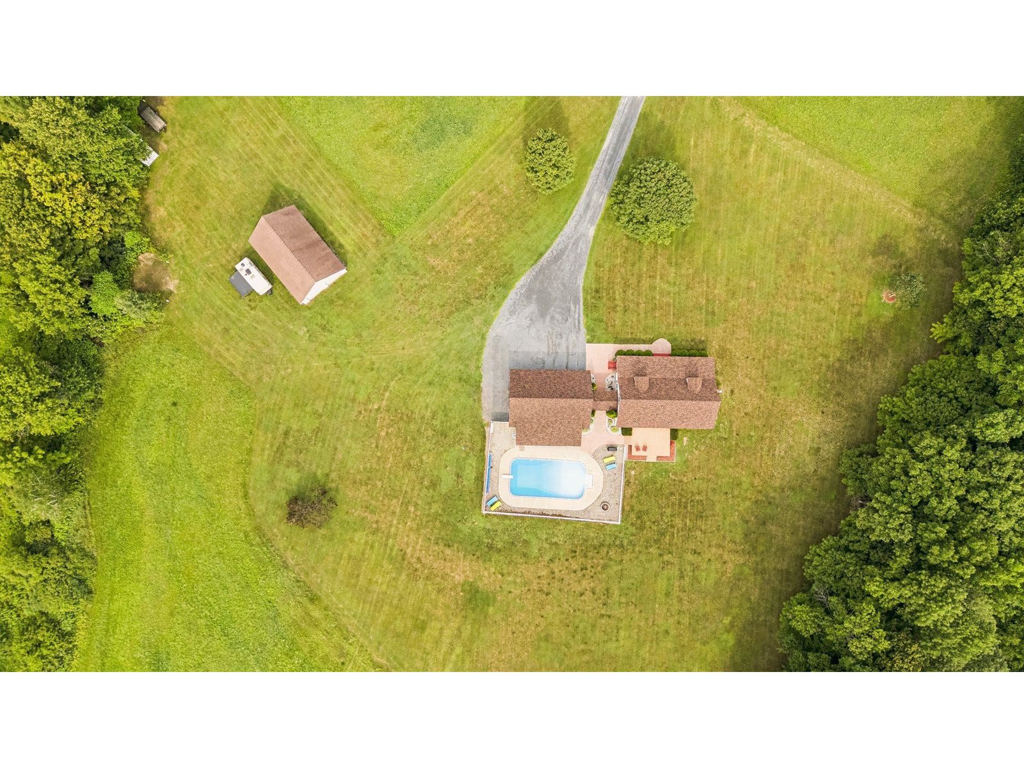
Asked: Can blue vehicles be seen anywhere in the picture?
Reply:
No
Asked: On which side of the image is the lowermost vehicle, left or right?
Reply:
left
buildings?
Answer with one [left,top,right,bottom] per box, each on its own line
[249,203,348,305]
[607,353,721,429]
[509,369,593,446]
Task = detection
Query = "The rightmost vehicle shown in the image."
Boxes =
[232,257,277,299]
